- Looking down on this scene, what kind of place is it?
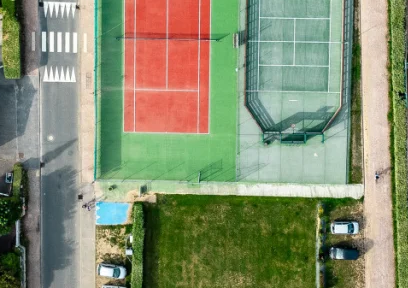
sports ground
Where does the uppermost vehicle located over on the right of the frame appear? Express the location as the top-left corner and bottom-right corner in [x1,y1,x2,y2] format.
[330,218,359,235]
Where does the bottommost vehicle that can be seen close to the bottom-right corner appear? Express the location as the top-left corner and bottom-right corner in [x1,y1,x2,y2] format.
[329,244,360,261]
